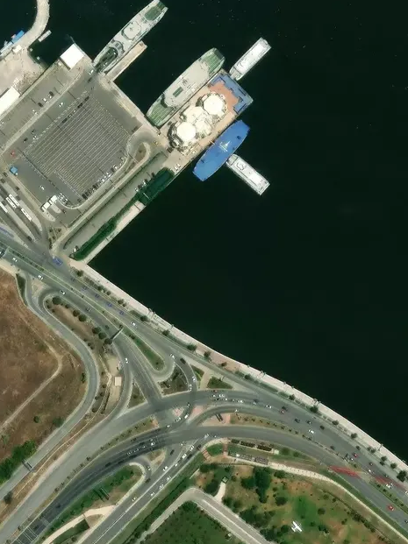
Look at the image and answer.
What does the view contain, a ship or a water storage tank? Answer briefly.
ship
